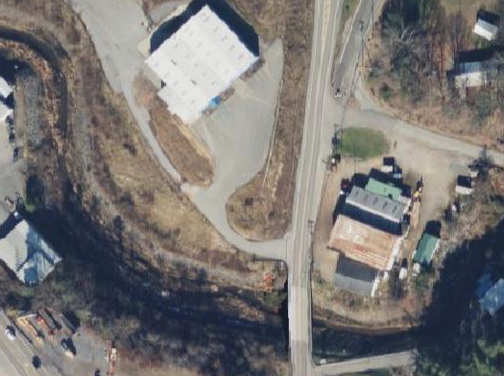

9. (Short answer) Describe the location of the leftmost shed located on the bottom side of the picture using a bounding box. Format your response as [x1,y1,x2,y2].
[0,220,63,283]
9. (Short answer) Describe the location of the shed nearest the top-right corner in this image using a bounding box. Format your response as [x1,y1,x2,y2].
[472,15,499,40]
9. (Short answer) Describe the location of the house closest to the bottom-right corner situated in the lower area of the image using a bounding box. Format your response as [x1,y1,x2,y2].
[478,279,504,314]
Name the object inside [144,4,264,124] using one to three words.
warehouse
